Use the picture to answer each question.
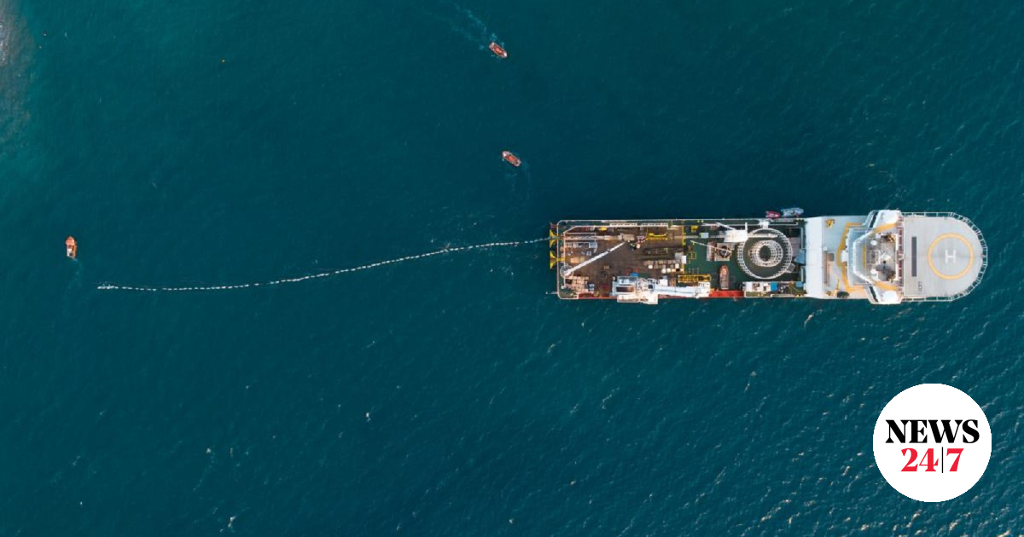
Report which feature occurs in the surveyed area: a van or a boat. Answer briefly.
boat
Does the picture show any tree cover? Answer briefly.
No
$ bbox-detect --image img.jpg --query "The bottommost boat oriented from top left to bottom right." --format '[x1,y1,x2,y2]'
[503,151,522,167]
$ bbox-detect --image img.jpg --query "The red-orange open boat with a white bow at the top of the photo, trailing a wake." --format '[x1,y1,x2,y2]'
[488,40,507,57]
